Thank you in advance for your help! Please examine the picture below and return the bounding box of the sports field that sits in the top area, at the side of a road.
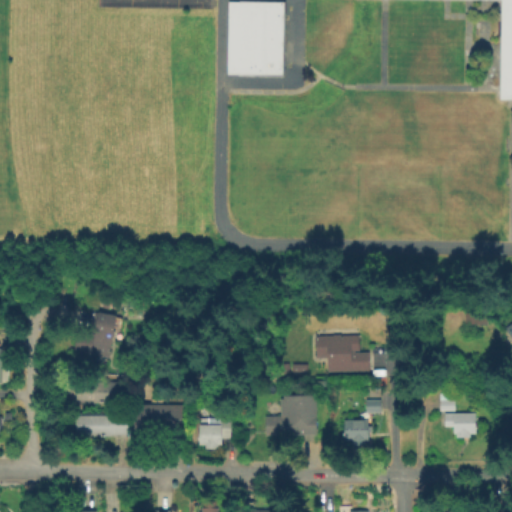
[228,91,509,240]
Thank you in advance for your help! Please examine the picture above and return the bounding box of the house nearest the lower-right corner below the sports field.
[445,413,477,440]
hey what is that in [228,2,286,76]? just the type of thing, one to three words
building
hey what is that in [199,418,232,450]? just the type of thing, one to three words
house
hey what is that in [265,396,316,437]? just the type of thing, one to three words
house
